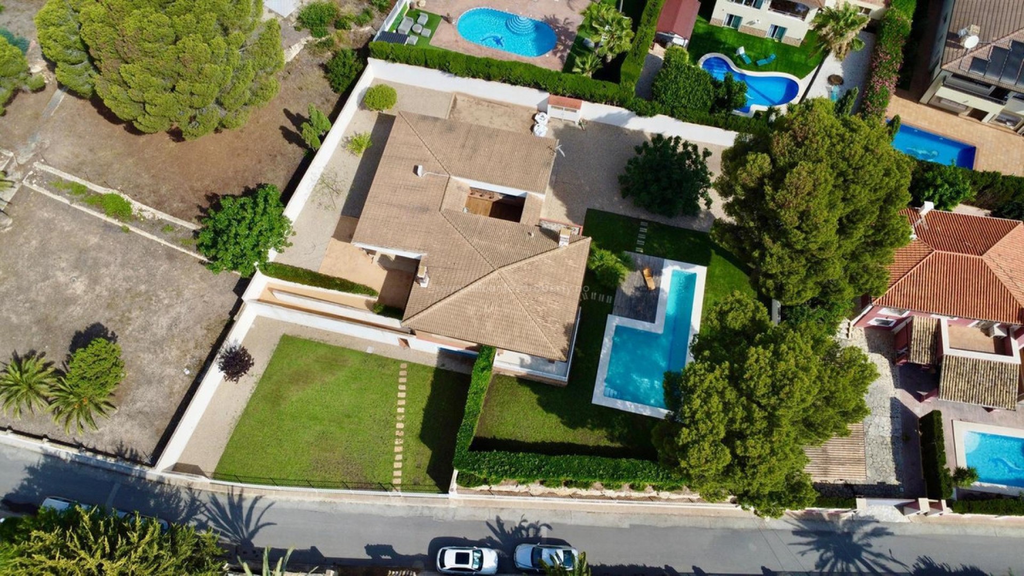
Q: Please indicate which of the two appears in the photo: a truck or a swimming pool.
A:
swimming pool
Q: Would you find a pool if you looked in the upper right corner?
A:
Yes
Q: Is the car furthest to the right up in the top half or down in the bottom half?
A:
bottom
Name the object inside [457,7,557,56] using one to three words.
swimming pool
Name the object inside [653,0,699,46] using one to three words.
shed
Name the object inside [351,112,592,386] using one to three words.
house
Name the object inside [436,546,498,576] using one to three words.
car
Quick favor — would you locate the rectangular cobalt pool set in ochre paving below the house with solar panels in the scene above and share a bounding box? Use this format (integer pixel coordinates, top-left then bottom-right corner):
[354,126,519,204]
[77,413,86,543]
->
[886,121,976,168]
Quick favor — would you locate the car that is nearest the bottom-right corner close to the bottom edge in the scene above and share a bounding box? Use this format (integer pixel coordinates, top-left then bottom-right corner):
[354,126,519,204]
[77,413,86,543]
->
[515,542,578,574]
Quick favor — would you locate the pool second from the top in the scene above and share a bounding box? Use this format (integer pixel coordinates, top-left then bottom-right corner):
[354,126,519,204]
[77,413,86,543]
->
[707,57,798,105]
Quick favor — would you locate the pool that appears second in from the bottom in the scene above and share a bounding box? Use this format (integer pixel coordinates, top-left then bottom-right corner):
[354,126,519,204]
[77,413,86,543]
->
[604,270,697,409]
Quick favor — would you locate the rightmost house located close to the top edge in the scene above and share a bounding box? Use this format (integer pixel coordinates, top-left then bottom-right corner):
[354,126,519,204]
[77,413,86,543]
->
[922,0,1024,132]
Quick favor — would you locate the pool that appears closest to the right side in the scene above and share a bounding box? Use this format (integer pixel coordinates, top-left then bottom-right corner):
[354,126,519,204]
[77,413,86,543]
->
[966,431,1024,488]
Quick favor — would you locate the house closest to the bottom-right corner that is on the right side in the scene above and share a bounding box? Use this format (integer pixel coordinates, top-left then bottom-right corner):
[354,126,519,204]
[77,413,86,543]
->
[861,203,1024,418]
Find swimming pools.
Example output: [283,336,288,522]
[707,57,798,105]
[886,121,976,168]
[604,270,697,409]
[966,431,1024,488]
[457,7,557,56]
